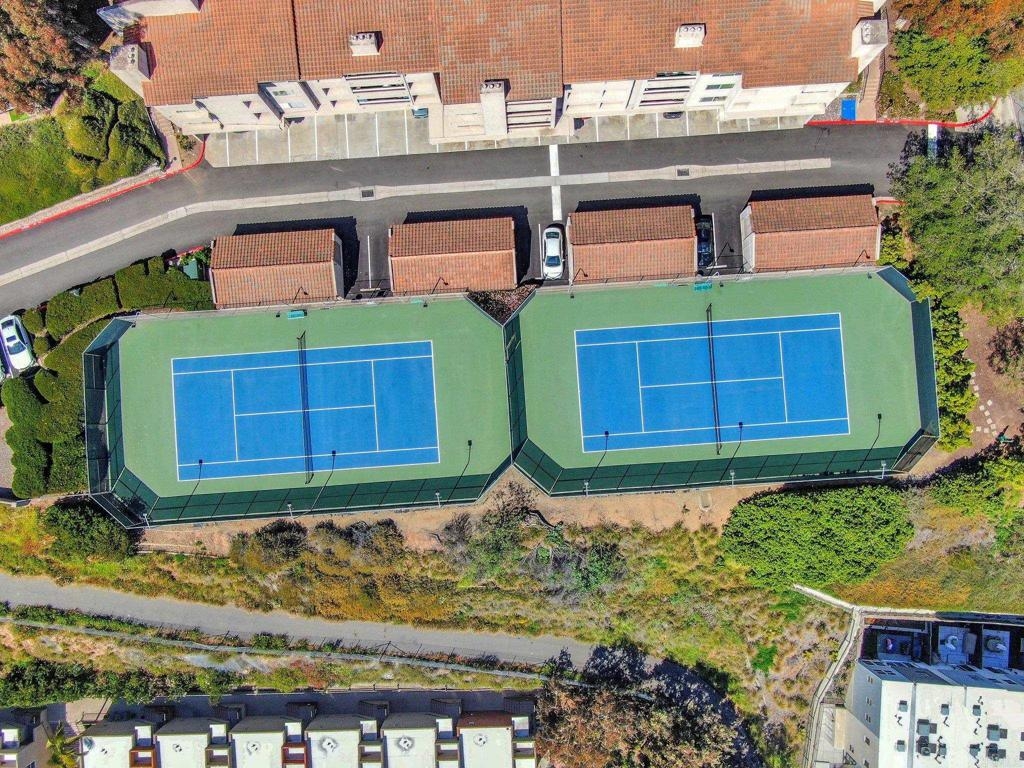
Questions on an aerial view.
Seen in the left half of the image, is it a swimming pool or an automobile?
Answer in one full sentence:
It is an automobile that can be seen in the left half of the image.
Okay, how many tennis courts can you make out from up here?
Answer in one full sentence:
The number of tennis courts here is 2.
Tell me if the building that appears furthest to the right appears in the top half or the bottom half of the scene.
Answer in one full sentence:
Seen from above, the building that appears furthest to the right lies in the bottom half of the view.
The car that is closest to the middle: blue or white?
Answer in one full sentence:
The car that is closest to the middle is white.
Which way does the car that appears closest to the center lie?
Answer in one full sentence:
From this overhead view, the car that appears closest to the center appears to run up and down.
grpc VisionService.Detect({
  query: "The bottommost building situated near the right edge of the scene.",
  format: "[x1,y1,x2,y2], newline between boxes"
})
[853,664,1024,768]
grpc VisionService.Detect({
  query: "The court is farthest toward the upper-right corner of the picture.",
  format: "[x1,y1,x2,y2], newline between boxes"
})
[504,273,921,491]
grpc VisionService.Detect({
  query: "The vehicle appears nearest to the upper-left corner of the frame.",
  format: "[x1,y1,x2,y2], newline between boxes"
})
[0,318,38,373]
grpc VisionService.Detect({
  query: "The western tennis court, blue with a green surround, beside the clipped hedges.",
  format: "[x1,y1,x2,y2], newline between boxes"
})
[104,302,511,523]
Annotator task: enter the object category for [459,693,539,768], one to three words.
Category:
house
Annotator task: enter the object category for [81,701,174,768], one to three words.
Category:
house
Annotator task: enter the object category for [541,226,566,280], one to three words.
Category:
car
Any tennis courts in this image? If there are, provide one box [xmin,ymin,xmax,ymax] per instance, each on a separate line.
[504,273,921,491]
[104,302,511,523]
